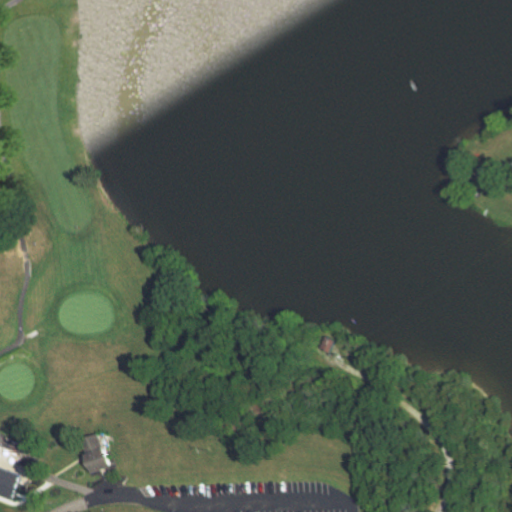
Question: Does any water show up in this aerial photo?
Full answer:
Yes, there is water in the image.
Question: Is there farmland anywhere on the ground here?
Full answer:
No, there is no farmland in the image.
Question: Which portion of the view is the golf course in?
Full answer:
The golf course is in the left part of the image.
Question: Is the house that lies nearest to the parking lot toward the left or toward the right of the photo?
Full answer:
You can find the house that lies nearest to the parking lot on the left side of the picture.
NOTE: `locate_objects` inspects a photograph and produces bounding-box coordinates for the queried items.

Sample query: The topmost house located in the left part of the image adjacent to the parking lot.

[82,435,111,474]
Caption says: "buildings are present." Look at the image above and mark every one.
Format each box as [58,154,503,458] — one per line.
[0,470,24,500]
[320,337,334,354]
[82,435,111,474]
